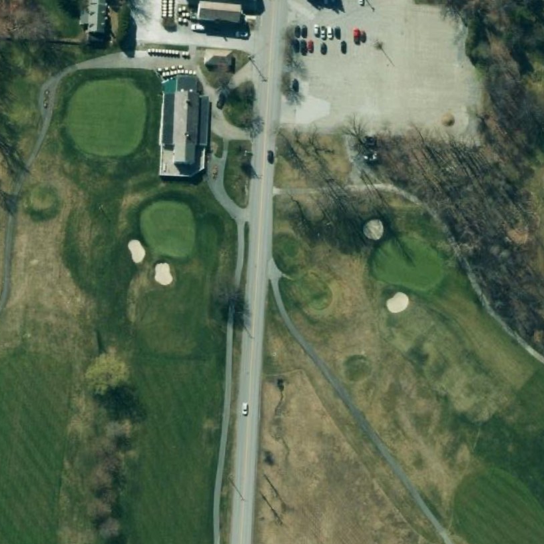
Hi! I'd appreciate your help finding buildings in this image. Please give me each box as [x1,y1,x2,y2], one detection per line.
[199,1,241,24]
[205,49,233,64]
[79,0,105,33]
[159,75,209,178]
